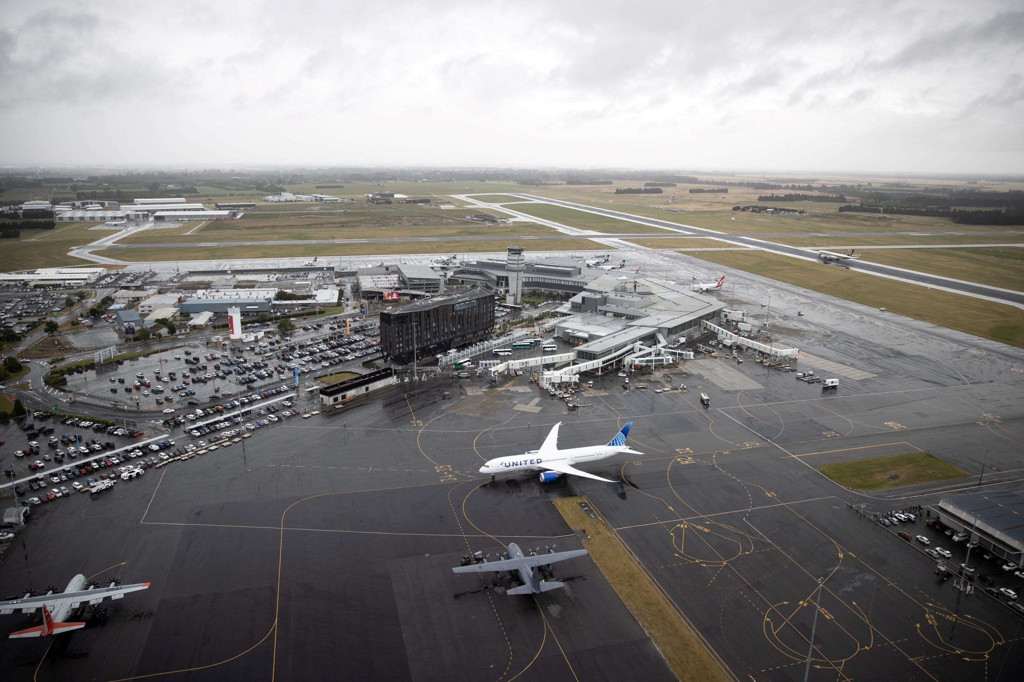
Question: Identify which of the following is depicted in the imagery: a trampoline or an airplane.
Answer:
airplane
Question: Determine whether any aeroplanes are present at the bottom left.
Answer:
Yes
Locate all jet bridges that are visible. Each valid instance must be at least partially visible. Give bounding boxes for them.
[489,354,576,380]
[545,341,640,389]
[650,334,698,363]
[625,350,677,373]
[721,308,771,332]
[701,322,802,359]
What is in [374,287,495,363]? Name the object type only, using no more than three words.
building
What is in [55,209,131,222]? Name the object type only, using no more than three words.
hangar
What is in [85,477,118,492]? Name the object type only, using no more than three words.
vehicle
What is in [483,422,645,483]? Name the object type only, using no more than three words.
airplane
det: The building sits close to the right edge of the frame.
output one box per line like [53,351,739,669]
[921,481,1024,569]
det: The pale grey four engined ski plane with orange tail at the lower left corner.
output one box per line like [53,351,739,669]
[0,570,151,636]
